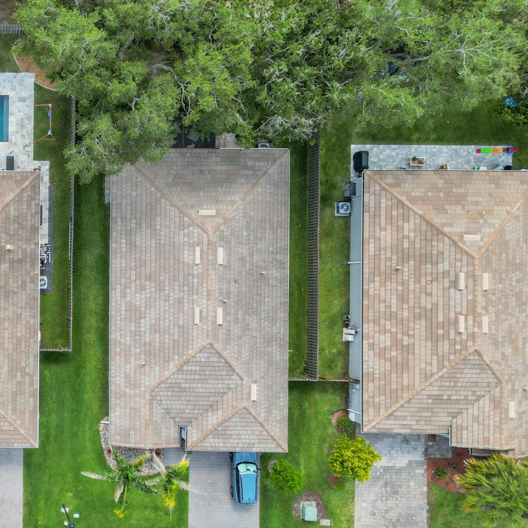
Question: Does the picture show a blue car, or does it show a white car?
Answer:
blue car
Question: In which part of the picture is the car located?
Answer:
bottom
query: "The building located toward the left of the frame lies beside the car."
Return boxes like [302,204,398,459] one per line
[103,147,294,453]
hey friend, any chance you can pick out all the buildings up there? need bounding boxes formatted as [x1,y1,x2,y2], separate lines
[342,168,528,456]
[103,147,294,453]
[0,170,42,449]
